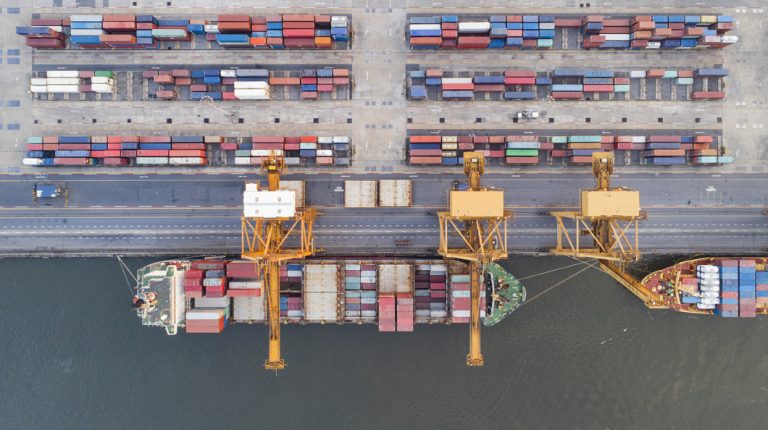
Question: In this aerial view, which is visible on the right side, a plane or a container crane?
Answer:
container crane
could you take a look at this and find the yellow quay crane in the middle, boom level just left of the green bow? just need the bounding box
[429,151,511,366]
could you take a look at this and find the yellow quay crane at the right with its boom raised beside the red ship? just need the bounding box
[537,151,667,308]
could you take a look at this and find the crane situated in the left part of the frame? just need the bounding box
[242,147,322,369]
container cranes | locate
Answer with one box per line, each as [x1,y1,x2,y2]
[537,151,667,308]
[429,151,511,366]
[242,147,322,369]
